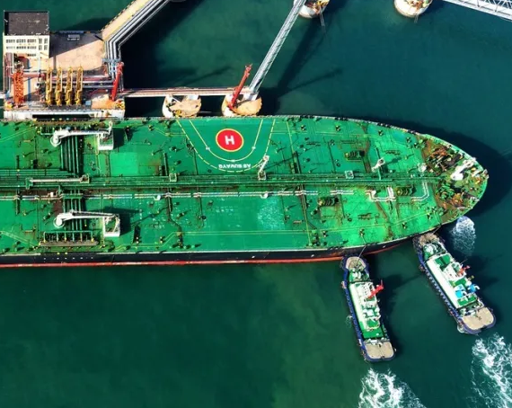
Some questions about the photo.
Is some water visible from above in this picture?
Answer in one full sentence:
Yes, some water is visible.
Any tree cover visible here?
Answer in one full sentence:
No, there is no tree cover in the image.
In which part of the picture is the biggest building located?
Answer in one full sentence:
The biggest building is located in the top left region of the scene.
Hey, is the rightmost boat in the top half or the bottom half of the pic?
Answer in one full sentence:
The rightmost boat sits in the bottom half of the picture.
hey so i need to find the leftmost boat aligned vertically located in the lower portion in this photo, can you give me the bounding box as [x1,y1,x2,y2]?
[339,254,395,363]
